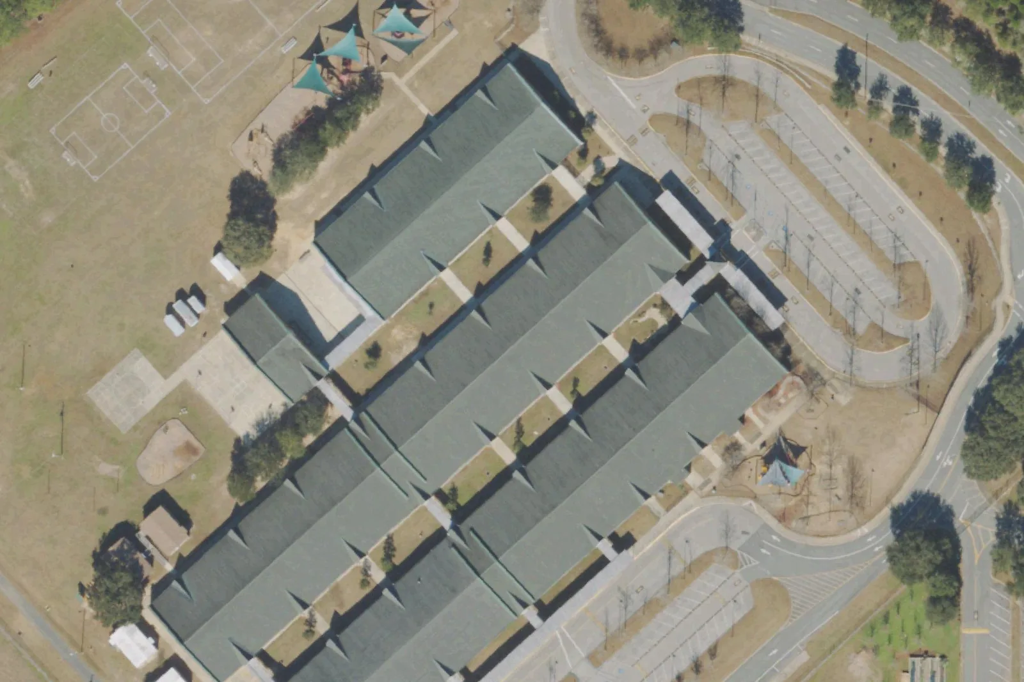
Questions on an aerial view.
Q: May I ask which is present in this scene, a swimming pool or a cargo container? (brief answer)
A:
cargo container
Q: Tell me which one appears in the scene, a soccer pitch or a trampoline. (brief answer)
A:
soccer pitch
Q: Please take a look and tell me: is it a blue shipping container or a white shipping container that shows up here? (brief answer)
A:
white shipping container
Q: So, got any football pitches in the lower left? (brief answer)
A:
No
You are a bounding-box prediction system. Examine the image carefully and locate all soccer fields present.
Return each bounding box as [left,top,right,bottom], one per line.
[52,64,169,178]
[116,0,324,102]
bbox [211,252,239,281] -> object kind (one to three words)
shed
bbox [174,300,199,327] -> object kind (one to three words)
shipping container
